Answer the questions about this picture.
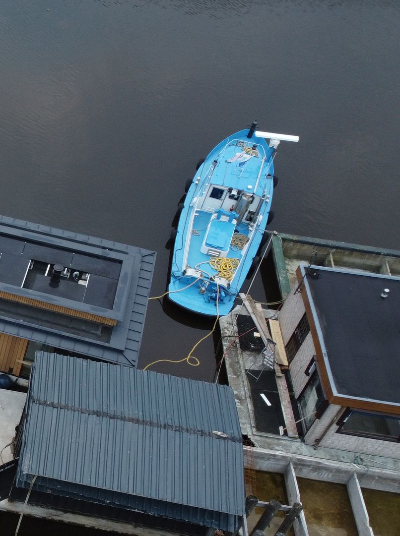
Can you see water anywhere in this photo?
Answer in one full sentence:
Yes, water can be seen from above here.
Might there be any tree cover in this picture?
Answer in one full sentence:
No, the scene doesn't show any tree cover.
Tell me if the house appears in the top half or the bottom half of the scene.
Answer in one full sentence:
The house sits in the bottom half of the picture.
